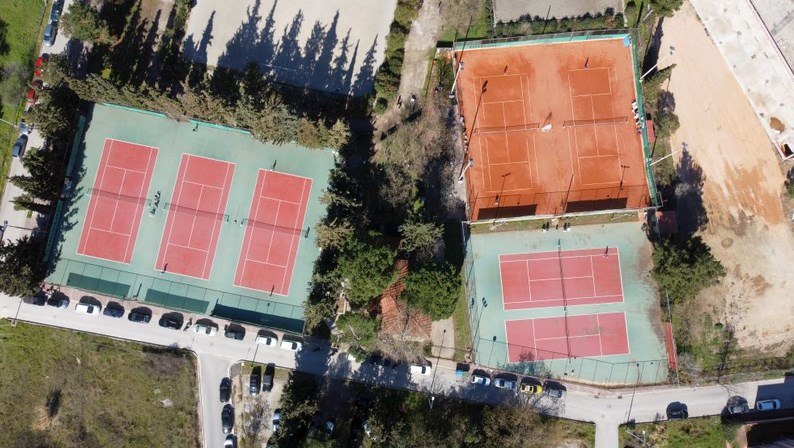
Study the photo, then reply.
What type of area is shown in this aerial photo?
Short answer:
sports ground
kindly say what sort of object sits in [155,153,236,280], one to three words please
tennis court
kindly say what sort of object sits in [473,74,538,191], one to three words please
tennis court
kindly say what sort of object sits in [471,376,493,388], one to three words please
vehicle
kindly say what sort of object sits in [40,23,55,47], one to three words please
car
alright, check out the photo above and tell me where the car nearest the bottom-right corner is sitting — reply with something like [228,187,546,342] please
[758,399,782,412]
